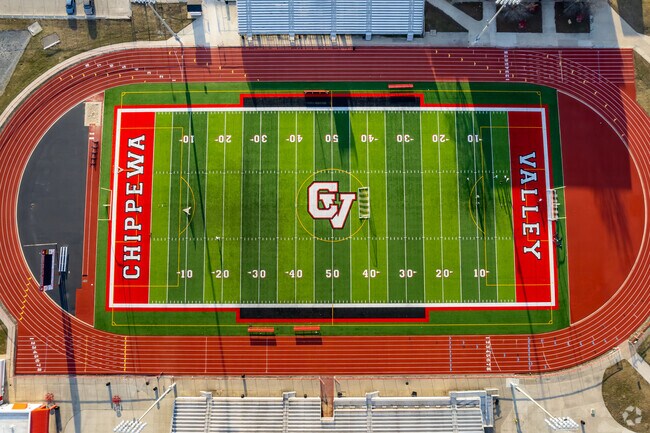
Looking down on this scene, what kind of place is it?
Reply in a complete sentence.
This looks like a sports ground.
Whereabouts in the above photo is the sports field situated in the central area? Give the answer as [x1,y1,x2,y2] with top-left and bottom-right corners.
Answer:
[93,83,572,334]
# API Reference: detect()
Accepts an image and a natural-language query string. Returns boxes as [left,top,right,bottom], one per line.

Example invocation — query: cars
[81,0,93,14]
[64,0,76,14]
